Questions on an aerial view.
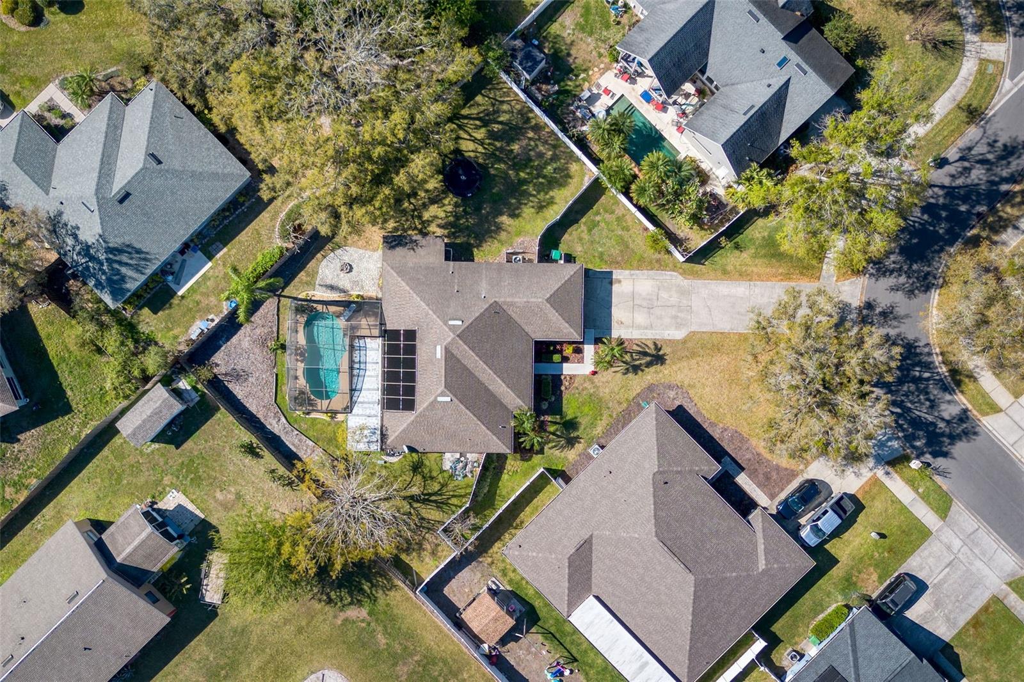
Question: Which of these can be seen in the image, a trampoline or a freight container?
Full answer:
It is a trampoline that can be seen here.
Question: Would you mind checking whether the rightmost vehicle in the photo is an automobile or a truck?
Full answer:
The rightmost vehicle in the image is an automobile.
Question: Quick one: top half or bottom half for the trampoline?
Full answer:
The trampoline sits in the top half of the picture.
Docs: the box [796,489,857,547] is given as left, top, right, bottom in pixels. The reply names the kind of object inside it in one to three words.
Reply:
truck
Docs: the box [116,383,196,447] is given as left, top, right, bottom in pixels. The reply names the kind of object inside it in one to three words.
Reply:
shed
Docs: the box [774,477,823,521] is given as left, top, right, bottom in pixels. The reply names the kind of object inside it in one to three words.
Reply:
car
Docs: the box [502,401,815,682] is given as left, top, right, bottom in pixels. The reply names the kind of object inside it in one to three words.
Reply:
house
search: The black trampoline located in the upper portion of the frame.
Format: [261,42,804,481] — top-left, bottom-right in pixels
[443,154,483,196]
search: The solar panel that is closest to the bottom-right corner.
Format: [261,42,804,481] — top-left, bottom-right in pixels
[810,657,852,682]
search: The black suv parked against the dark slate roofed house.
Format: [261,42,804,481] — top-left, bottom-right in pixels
[870,567,919,619]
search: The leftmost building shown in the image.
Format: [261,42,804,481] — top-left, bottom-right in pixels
[0,357,38,418]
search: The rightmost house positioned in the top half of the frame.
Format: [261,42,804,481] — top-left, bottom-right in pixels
[615,0,855,178]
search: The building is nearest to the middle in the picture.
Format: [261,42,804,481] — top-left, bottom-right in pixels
[382,235,584,454]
